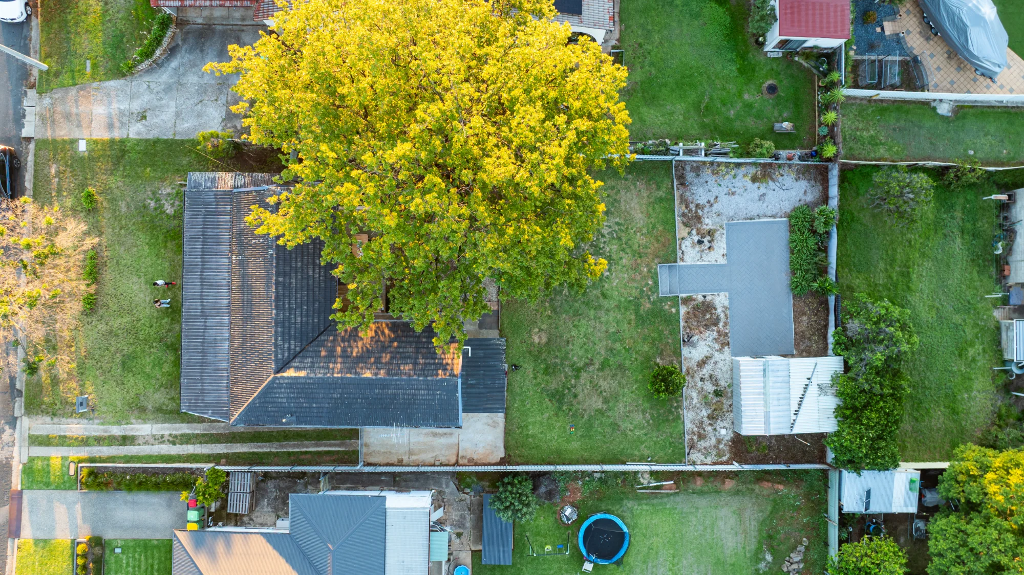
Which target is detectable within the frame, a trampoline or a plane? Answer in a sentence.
This aerial view contains a trampoline.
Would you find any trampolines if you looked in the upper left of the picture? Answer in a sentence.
No, there's no trampoline to be seen in the upper left of the picture.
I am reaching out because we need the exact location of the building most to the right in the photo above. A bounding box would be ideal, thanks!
[993,309,1024,362]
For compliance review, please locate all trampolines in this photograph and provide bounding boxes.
[577,510,631,569]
